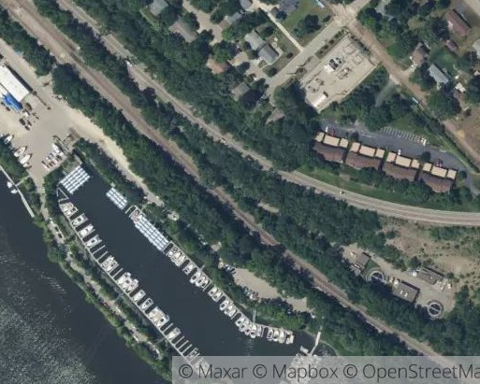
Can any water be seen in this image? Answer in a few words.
Yes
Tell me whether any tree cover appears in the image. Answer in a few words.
Yes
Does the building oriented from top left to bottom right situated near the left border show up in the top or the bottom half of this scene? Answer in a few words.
top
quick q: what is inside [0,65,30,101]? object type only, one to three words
building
